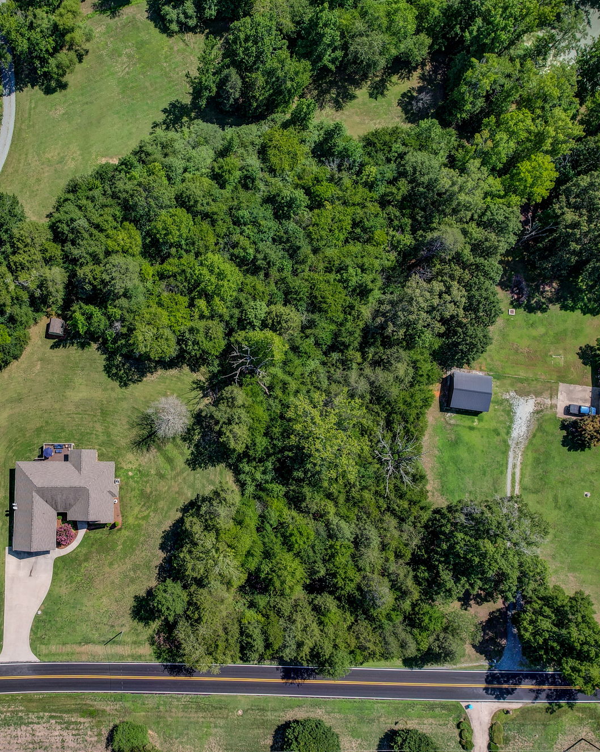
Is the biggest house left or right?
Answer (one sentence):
It is on the left.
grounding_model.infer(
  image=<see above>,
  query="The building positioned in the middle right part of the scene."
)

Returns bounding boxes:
[448,372,492,412]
